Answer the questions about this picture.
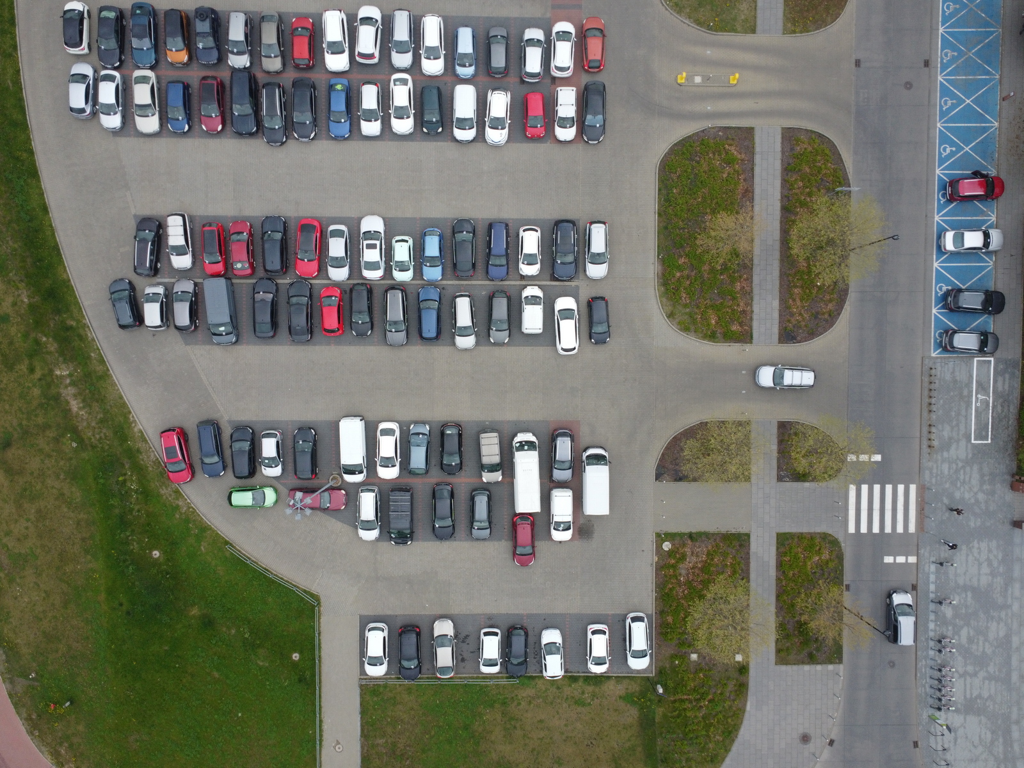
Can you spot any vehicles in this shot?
Yes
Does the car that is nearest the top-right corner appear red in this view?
Yes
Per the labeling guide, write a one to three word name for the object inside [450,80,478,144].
van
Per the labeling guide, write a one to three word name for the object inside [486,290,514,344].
car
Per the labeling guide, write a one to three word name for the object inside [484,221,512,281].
car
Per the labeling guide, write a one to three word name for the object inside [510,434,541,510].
van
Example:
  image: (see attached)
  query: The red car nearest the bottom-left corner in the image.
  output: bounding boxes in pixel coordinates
[158,426,194,484]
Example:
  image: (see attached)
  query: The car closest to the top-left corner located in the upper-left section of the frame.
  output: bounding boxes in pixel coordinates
[57,0,92,55]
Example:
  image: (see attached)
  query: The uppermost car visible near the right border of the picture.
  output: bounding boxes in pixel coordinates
[948,167,1005,203]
